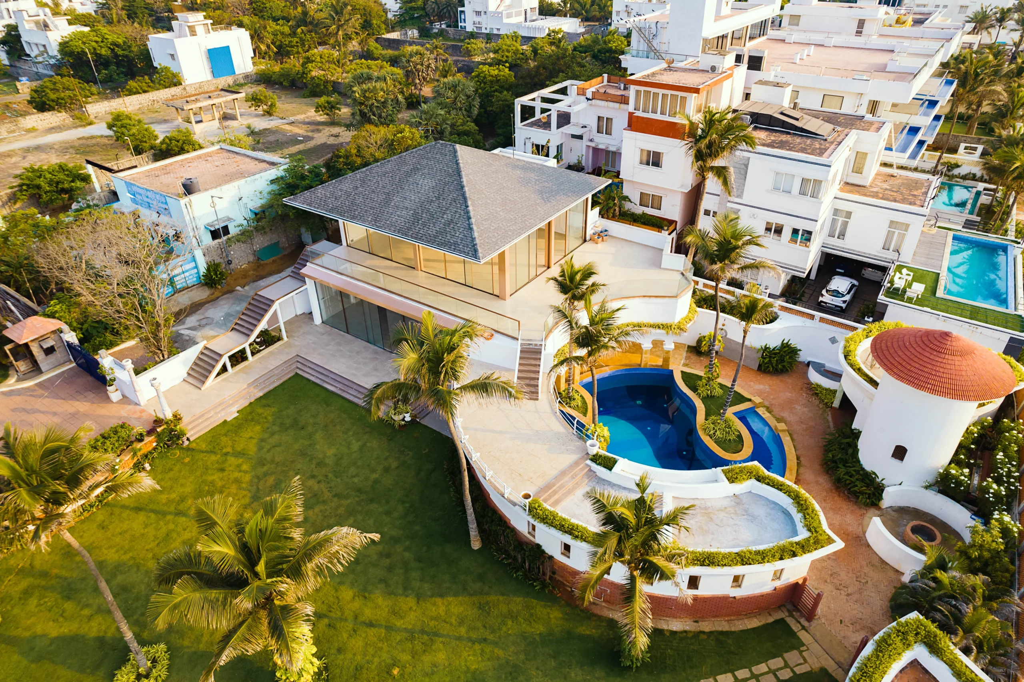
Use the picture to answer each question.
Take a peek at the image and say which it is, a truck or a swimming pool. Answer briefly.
swimming pool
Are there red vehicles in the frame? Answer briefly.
No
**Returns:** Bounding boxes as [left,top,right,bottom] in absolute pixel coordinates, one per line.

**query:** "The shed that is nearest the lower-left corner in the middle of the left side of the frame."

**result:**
[1,312,72,382]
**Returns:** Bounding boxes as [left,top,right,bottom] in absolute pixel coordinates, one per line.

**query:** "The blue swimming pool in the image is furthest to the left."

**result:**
[551,317,797,483]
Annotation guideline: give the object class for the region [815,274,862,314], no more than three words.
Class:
car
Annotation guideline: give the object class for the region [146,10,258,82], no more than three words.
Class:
building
